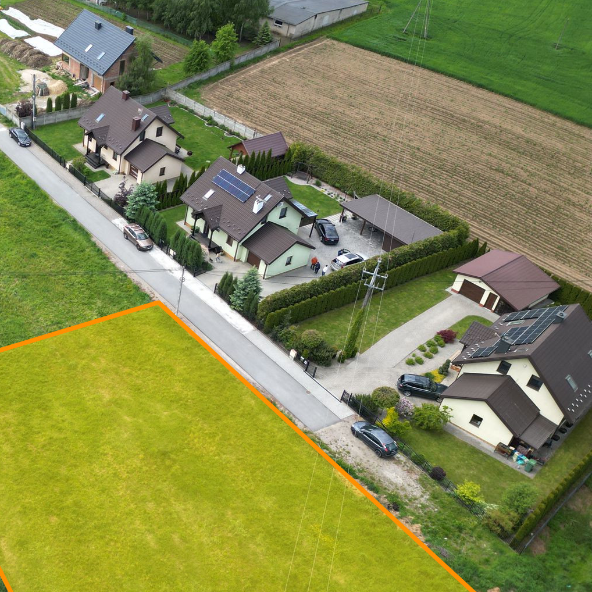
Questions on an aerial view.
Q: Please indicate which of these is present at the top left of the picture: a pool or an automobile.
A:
automobile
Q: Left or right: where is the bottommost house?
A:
right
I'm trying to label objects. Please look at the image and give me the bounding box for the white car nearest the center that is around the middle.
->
[331,245,368,271]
